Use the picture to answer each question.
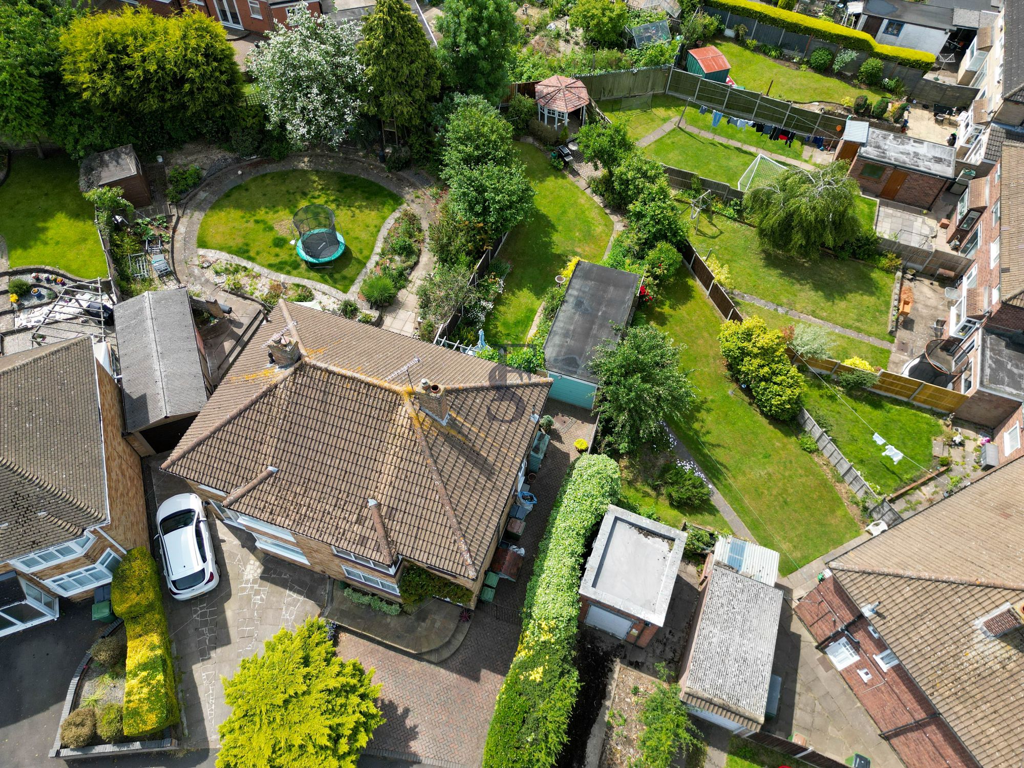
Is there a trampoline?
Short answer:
Yes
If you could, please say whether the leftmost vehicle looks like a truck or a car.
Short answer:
car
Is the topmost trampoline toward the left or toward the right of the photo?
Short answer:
left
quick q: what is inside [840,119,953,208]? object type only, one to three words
shed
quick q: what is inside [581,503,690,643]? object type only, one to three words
building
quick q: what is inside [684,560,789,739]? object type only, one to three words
building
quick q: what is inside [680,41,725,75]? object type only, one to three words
shed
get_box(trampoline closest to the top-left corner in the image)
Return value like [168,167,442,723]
[288,214,343,277]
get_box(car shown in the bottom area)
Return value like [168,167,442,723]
[150,494,225,602]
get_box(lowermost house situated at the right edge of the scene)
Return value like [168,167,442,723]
[797,443,1024,768]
